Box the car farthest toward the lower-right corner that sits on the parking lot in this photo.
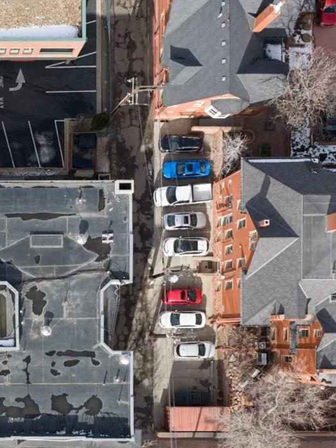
[173,339,215,361]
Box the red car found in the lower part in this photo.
[161,285,202,306]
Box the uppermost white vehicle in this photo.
[153,182,214,206]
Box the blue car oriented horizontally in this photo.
[161,156,211,181]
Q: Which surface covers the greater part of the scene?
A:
buildings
